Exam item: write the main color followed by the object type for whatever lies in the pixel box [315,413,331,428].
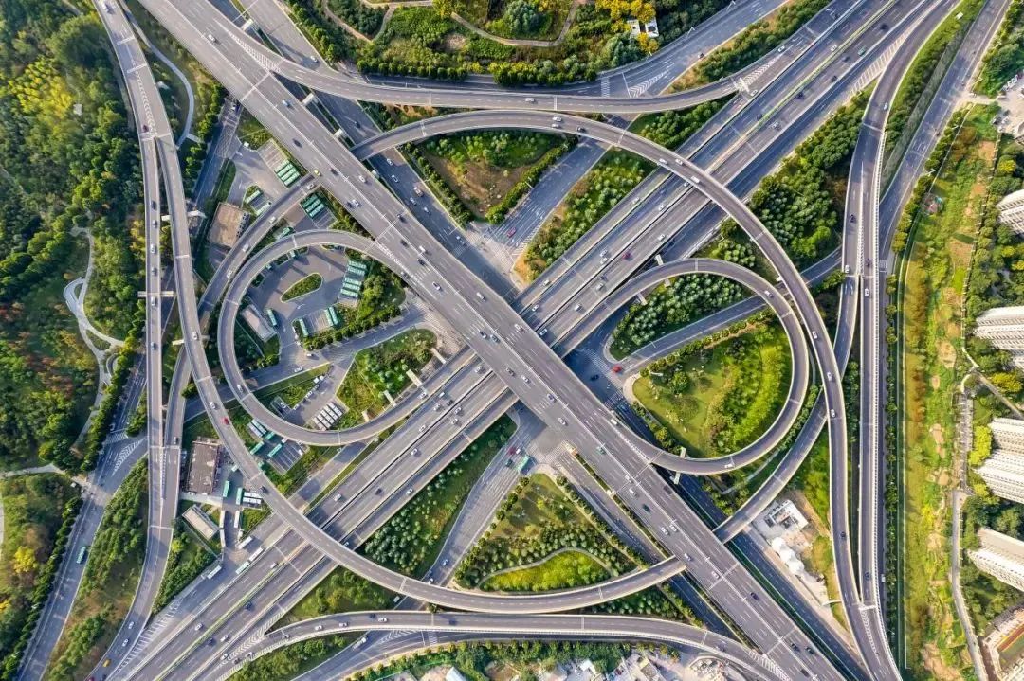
white vehicle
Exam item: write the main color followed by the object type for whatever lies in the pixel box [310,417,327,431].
white vehicle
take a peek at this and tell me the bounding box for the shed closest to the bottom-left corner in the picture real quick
[183,506,217,539]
